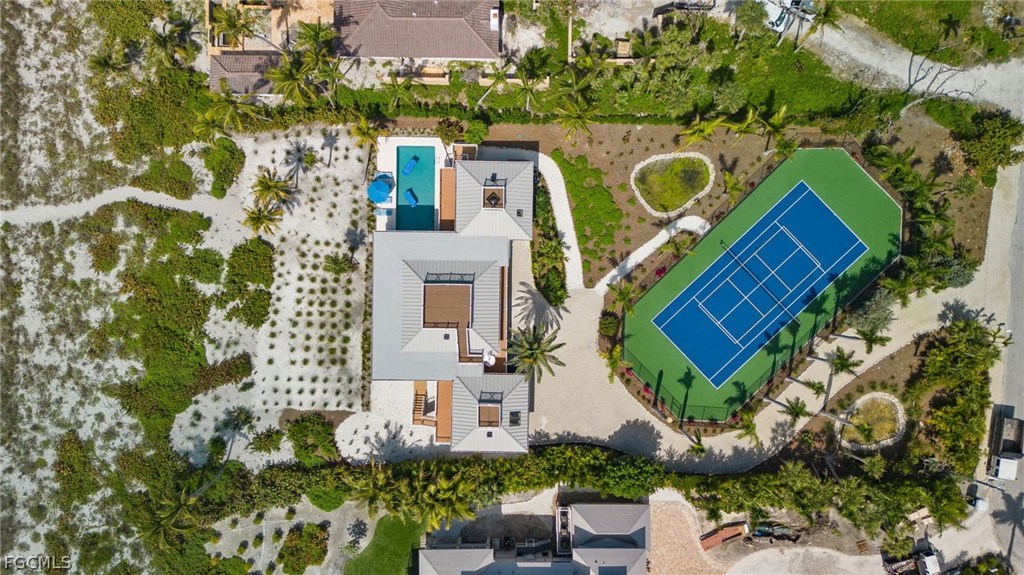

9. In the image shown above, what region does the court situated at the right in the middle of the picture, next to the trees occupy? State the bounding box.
[624,148,903,423]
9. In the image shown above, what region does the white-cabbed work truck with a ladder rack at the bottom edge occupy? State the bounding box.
[876,545,946,575]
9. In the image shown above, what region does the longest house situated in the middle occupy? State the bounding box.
[372,142,533,453]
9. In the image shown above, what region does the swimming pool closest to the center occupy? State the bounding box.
[377,137,455,231]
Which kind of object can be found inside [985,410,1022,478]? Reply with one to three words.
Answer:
truck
